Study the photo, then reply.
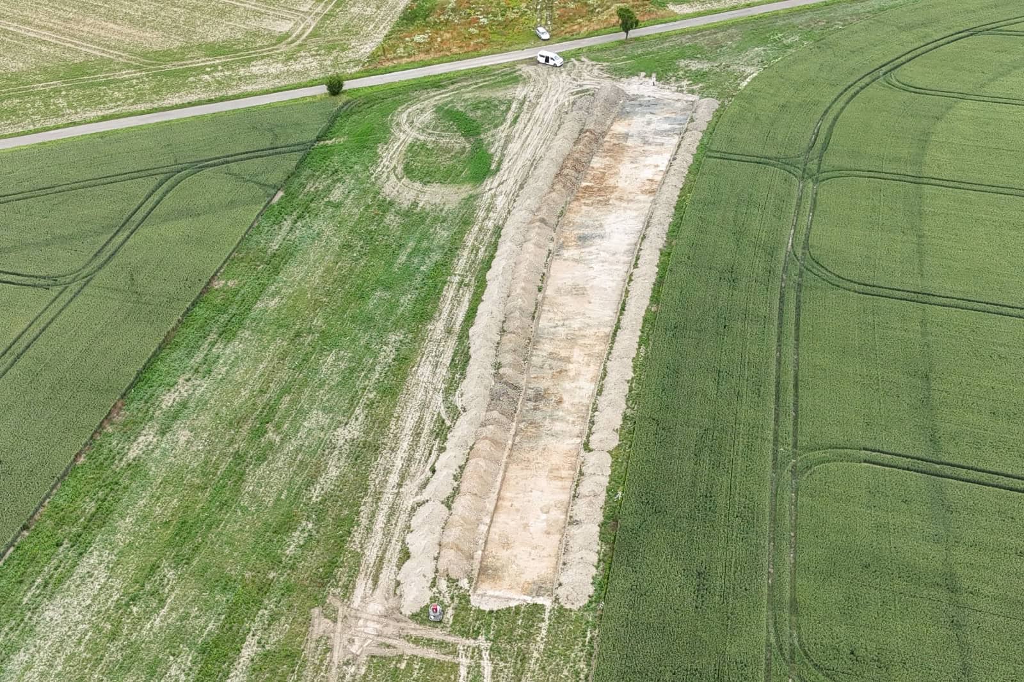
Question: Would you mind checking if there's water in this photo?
No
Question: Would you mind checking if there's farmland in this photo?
Yes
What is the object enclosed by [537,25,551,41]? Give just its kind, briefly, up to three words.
car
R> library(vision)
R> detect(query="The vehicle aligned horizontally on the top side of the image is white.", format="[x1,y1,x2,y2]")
[538,49,566,66]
